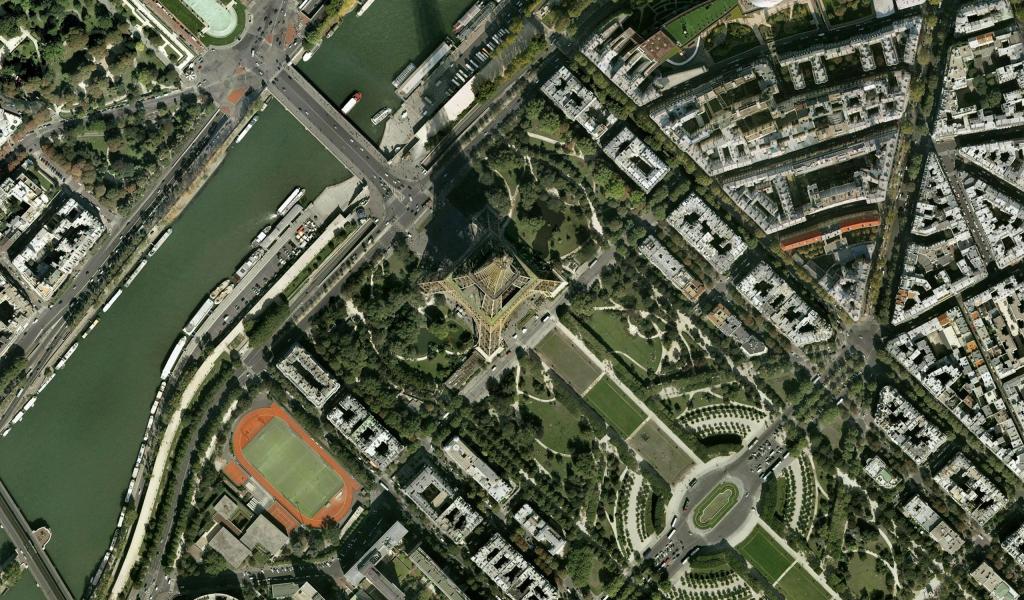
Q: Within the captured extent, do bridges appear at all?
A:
Yes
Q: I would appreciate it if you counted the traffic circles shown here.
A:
1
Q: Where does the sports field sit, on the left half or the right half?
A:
left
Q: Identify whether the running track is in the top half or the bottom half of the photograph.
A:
bottom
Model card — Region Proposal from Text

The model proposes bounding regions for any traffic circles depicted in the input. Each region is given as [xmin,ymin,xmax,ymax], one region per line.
[685,468,747,538]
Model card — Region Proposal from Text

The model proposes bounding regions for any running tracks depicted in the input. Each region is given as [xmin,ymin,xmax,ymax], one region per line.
[233,402,362,526]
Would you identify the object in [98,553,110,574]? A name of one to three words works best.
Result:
boat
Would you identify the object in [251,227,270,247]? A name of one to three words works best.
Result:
boat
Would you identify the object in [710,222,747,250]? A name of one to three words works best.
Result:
building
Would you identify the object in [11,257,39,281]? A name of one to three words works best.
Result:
building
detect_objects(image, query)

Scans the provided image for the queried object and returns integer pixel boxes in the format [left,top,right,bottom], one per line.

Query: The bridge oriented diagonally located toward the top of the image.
[268,66,378,177]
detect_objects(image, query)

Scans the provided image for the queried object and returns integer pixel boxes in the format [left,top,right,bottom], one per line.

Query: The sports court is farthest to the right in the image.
[266,499,301,534]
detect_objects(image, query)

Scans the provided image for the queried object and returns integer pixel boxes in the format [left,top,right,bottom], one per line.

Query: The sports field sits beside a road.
[233,402,362,526]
